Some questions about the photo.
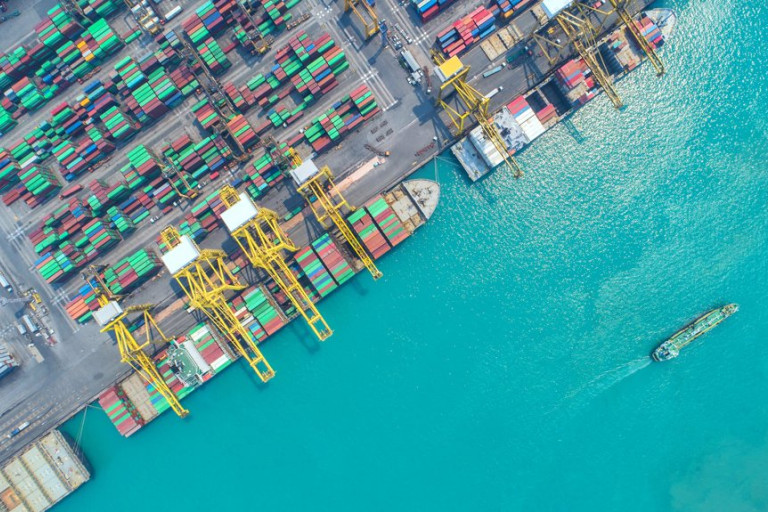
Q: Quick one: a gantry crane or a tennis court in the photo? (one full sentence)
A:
Visible in the photo is a gantry crane.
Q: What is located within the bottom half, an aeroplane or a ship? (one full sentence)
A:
Visible within the bottom half is a ship.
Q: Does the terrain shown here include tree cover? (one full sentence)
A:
No, there is no tree cover in the image.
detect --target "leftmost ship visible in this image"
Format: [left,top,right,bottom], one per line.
[0,423,100,512]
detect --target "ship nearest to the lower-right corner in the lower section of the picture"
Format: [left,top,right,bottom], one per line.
[646,301,738,362]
